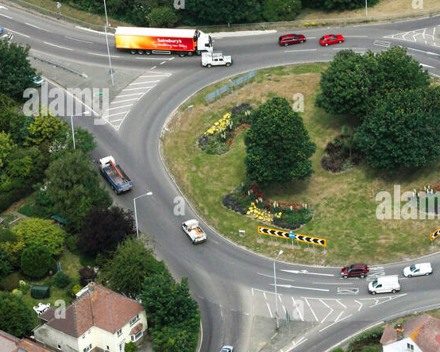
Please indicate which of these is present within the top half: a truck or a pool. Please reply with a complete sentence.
There is a truck within the top half.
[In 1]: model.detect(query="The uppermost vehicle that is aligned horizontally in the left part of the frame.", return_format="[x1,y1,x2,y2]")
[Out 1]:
[113,23,213,56]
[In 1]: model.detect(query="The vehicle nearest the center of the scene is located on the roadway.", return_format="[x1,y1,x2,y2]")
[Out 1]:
[182,219,207,243]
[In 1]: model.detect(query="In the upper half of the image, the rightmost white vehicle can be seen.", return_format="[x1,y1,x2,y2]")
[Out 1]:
[202,50,233,67]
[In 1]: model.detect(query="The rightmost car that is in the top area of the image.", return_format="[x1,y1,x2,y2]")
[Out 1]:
[320,32,343,44]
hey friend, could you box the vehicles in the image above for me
[113,23,213,56]
[182,219,207,243]
[366,273,402,295]
[278,31,306,44]
[98,150,132,193]
[405,260,433,276]
[218,344,233,352]
[320,32,343,44]
[340,259,370,276]
[202,50,233,67]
